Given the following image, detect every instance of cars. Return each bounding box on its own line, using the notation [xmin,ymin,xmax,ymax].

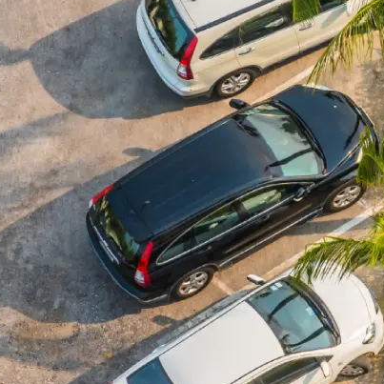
[132,0,384,99]
[88,80,378,301]
[108,265,380,384]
